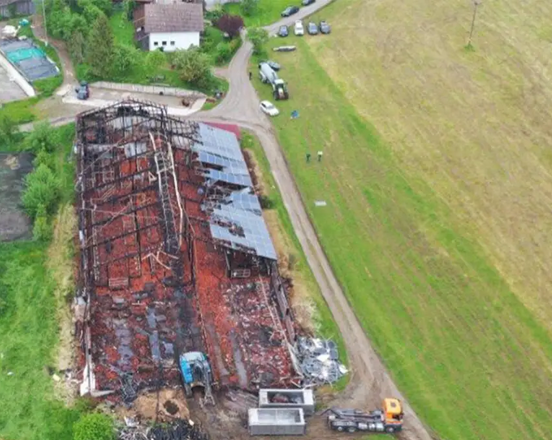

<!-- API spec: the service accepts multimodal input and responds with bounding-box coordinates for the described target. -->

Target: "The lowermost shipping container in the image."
[249,406,307,435]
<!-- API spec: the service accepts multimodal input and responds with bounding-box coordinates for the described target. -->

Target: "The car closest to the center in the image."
[259,99,280,118]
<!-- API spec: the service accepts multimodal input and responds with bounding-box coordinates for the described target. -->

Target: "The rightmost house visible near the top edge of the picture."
[134,0,202,51]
